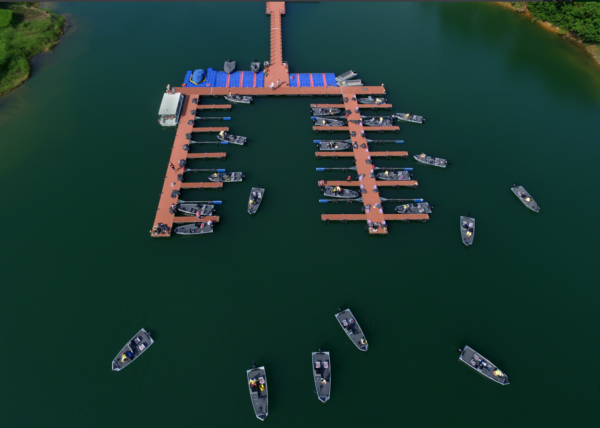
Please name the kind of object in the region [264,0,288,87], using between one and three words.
pier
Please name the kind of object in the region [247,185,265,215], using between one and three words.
boat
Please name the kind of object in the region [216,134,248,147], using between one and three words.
boat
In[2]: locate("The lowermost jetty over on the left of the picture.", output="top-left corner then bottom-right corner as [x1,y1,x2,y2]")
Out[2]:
[151,94,232,237]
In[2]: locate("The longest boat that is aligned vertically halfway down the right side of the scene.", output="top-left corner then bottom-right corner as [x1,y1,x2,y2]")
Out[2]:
[459,213,475,246]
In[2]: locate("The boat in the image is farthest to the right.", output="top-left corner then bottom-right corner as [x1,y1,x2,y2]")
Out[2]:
[510,184,540,212]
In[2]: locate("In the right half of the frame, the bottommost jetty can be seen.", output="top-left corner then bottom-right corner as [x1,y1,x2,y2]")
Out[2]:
[311,94,428,235]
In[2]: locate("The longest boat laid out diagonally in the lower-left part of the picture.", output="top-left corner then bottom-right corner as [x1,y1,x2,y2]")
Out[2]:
[111,329,156,372]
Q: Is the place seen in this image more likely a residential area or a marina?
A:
marina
